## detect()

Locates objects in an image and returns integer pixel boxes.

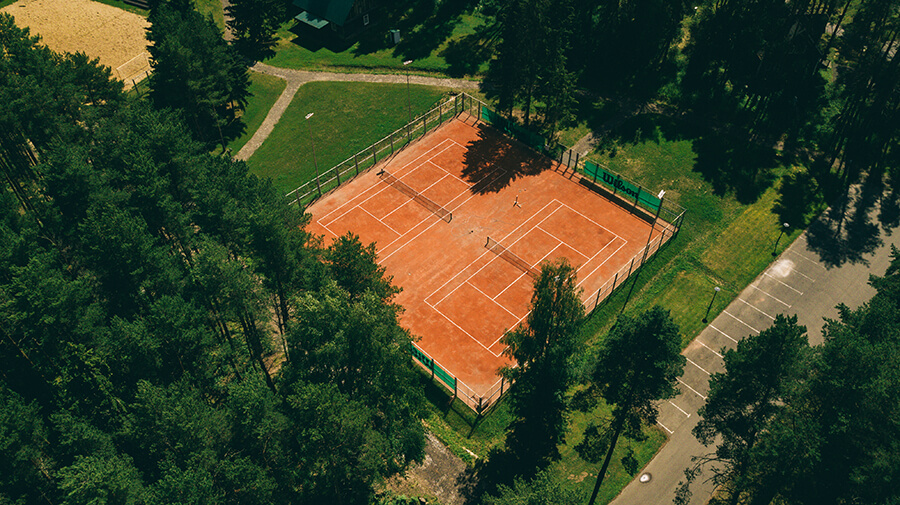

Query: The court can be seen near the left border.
[0,0,152,103]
